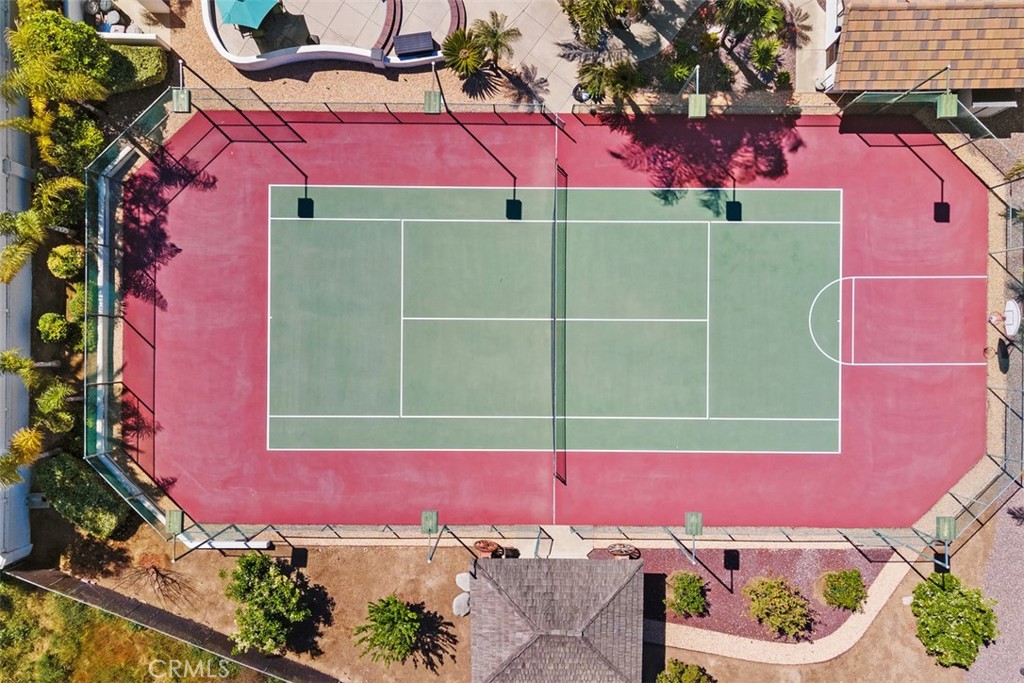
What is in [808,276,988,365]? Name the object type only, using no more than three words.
basketball court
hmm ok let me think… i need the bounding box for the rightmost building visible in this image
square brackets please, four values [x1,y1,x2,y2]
[824,0,1024,93]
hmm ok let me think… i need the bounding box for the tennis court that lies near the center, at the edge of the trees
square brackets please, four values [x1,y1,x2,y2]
[122,110,989,528]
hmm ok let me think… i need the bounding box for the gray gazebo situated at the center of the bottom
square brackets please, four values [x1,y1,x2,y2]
[471,546,645,683]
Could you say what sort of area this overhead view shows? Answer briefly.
sports ground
